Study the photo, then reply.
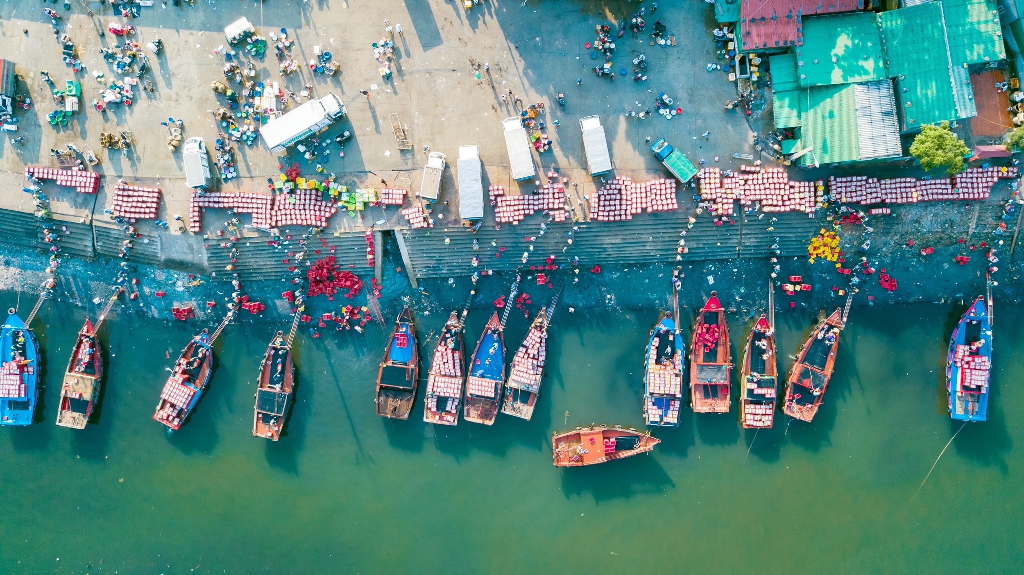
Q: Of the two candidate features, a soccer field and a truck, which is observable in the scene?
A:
truck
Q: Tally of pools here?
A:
0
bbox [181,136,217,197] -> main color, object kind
white truck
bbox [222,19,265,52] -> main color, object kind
white vehicle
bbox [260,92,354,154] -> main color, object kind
white truck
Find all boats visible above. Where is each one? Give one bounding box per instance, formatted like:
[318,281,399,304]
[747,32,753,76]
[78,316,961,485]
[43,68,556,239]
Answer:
[687,289,732,413]
[500,303,555,421]
[54,316,106,432]
[462,309,509,426]
[780,303,846,424]
[250,328,296,442]
[551,423,663,468]
[942,292,993,421]
[0,307,48,426]
[150,325,215,433]
[374,303,421,421]
[423,309,468,427]
[735,310,778,429]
